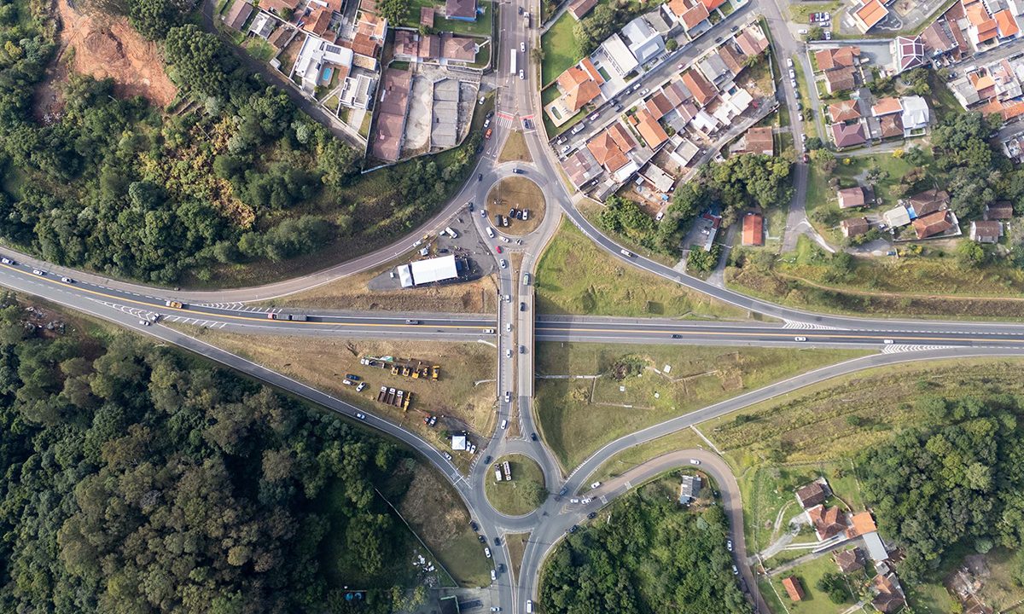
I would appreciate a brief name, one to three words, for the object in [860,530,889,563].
barn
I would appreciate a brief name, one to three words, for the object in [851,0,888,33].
building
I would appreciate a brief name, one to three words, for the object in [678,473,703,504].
shed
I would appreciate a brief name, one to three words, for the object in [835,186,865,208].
house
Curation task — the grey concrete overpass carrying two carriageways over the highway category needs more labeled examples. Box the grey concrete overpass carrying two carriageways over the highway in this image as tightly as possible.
[497,286,535,398]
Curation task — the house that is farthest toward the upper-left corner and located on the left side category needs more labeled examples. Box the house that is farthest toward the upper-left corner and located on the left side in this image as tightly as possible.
[223,0,255,32]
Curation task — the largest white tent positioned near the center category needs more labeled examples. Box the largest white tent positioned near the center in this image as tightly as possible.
[410,256,458,283]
